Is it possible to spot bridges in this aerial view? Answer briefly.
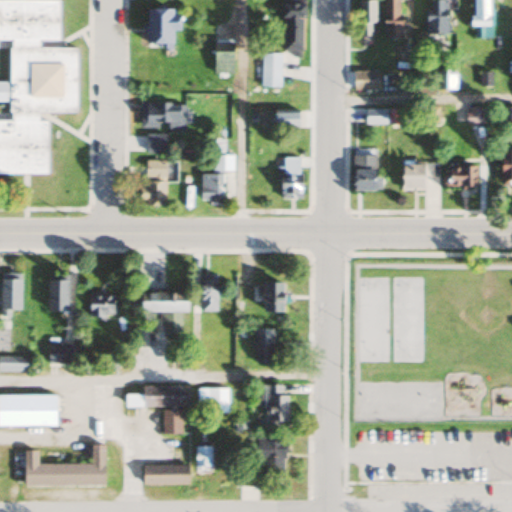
No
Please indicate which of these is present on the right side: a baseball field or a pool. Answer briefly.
baseball field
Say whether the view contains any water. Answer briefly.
No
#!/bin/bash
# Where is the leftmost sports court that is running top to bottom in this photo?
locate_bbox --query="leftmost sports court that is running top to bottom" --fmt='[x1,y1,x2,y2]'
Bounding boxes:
[360,278,390,363]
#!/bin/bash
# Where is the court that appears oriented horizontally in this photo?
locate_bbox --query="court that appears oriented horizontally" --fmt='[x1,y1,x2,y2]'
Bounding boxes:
[360,382,444,416]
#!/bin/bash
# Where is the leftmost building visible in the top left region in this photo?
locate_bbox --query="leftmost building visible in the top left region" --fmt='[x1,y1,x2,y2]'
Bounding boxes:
[0,0,80,173]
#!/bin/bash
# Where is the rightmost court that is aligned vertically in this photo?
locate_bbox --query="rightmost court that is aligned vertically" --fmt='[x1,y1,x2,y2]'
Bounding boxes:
[393,278,425,363]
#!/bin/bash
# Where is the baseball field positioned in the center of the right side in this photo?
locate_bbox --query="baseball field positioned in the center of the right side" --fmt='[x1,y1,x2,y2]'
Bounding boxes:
[458,270,512,338]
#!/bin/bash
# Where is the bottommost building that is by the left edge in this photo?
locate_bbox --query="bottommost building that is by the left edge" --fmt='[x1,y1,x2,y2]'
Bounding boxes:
[26,446,106,488]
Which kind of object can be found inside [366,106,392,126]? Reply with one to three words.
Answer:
building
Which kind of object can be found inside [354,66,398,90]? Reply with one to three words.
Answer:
house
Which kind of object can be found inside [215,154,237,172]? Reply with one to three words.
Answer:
building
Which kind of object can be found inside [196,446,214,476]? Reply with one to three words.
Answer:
house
